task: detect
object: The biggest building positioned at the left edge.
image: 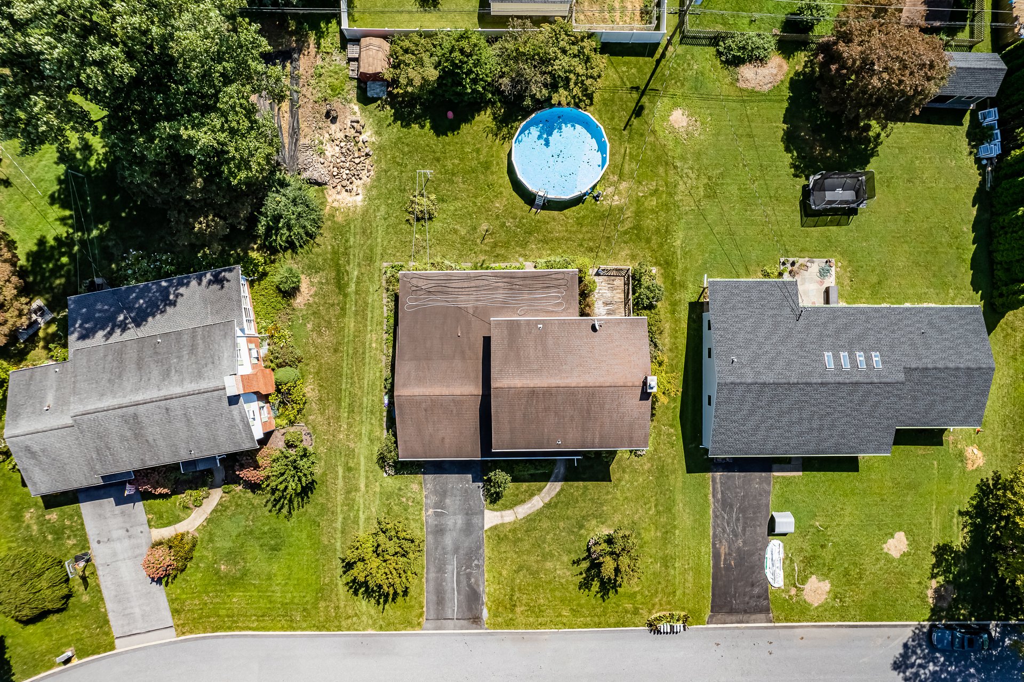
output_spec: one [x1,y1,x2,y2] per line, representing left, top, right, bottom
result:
[4,264,285,498]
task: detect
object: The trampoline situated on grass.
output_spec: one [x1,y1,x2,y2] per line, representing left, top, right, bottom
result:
[805,171,877,211]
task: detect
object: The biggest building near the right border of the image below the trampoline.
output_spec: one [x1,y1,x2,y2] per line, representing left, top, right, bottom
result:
[696,277,995,457]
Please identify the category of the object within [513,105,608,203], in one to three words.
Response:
swimming pool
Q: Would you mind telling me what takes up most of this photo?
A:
grass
